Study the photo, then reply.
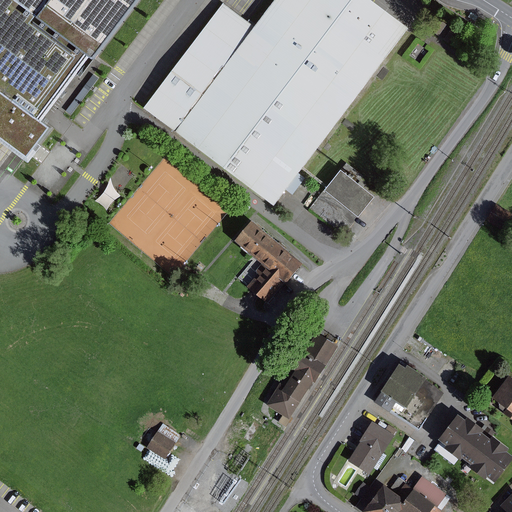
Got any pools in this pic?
Yes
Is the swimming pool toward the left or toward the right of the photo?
right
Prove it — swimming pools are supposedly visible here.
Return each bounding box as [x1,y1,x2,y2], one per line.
[334,460,366,490]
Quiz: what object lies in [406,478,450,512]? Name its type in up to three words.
house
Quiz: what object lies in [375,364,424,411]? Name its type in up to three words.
house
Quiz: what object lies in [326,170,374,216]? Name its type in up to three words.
building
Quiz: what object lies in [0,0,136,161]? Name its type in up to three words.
building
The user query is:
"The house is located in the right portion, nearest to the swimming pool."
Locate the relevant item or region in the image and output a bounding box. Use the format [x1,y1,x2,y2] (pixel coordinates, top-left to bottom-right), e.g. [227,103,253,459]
[348,422,396,476]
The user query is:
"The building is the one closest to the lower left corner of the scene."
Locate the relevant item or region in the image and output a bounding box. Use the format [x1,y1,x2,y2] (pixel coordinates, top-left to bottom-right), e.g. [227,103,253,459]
[146,424,180,459]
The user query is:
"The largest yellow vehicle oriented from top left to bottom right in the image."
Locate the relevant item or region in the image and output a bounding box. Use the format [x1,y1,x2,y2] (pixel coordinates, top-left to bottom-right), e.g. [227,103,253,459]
[363,410,380,424]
